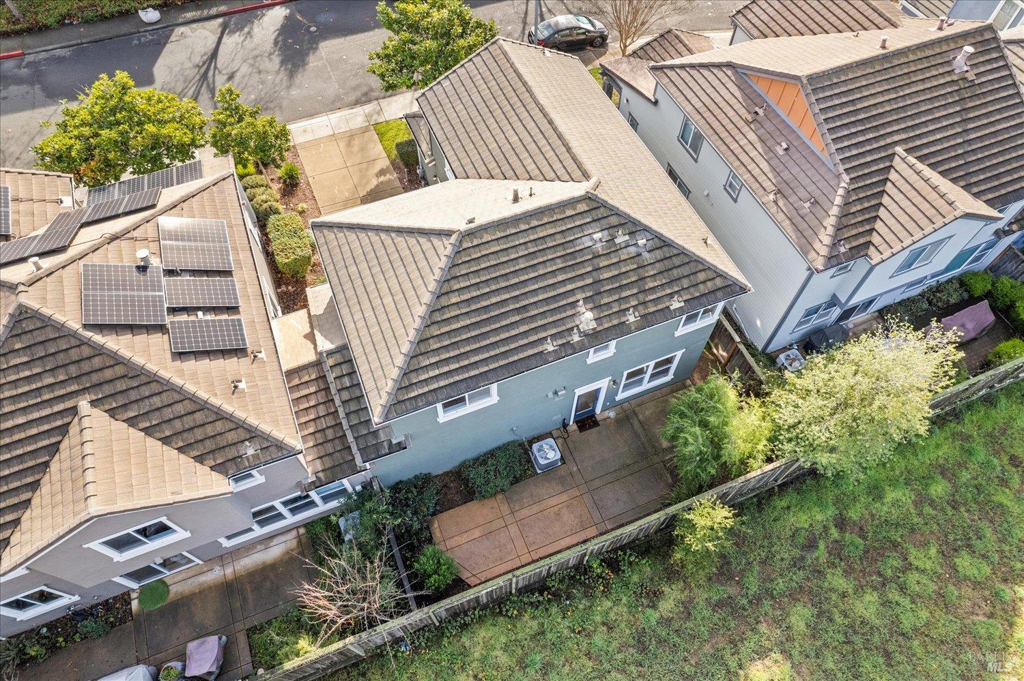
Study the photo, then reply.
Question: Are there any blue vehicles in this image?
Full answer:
No, no blue vehicle is visible in the view.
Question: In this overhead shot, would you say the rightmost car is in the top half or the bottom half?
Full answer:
The rightmost car is in the top half of the image.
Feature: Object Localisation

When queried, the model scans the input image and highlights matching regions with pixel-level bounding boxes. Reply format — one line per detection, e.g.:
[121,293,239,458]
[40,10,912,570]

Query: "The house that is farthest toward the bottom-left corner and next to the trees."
[0,147,381,643]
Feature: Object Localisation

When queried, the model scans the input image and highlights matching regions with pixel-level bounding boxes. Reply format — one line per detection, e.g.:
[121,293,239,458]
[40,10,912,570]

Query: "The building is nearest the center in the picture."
[307,33,757,489]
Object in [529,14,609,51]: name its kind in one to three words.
car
